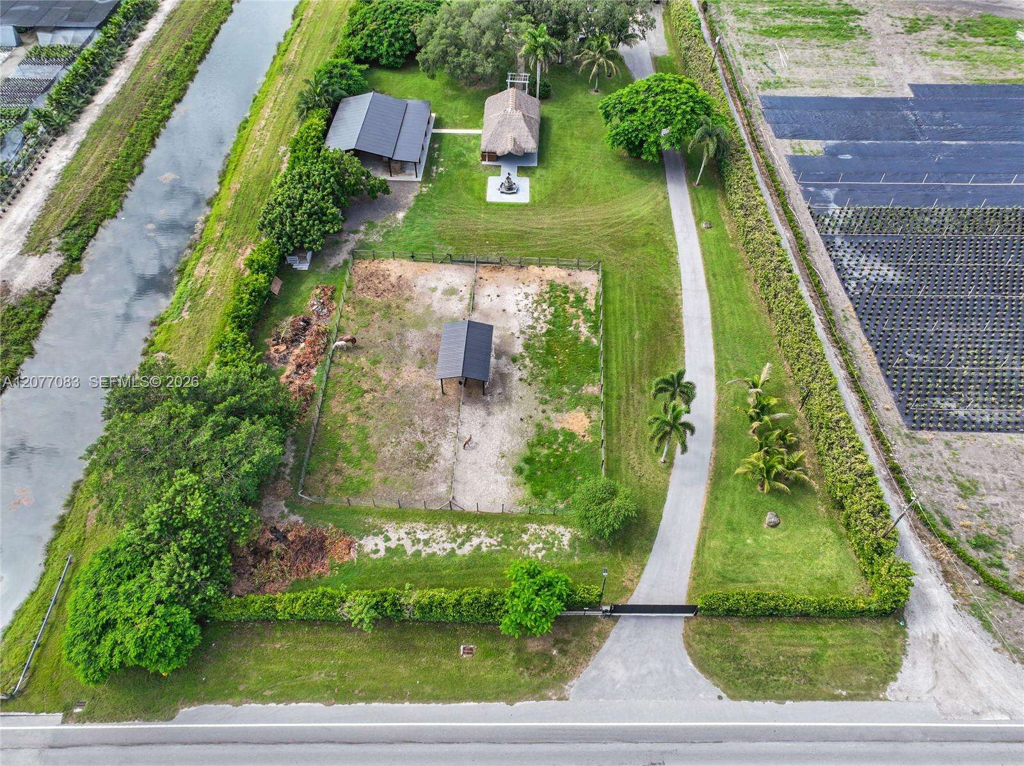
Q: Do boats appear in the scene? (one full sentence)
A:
No, the picture doesn't show any boat.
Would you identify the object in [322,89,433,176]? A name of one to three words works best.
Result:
barn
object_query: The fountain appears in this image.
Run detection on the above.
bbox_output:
[498,170,519,195]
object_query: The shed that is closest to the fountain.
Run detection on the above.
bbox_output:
[479,86,543,163]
